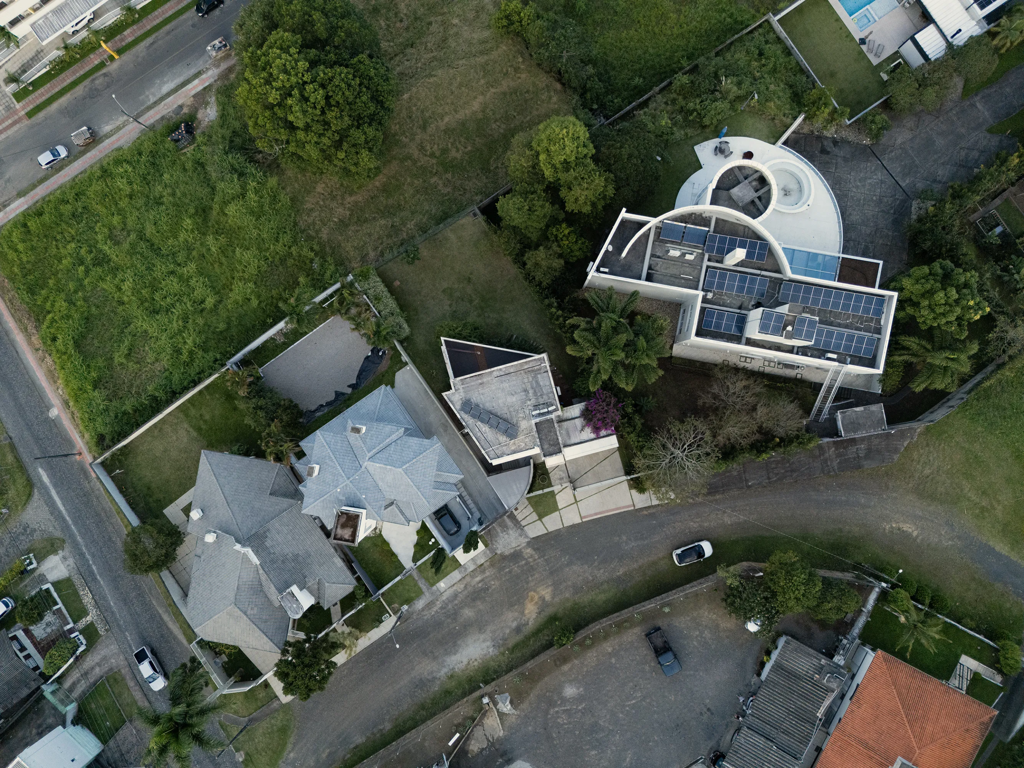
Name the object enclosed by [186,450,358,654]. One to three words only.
house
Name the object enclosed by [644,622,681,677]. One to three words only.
truck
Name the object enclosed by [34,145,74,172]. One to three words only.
car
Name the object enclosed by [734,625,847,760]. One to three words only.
shed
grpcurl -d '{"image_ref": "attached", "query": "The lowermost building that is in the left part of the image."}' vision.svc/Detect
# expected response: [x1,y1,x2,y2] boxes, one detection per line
[7,724,105,768]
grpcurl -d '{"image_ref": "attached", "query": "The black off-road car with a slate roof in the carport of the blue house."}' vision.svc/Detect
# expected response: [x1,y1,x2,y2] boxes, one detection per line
[434,502,464,542]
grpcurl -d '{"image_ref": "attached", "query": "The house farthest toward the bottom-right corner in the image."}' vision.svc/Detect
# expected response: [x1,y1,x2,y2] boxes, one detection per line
[801,647,999,768]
